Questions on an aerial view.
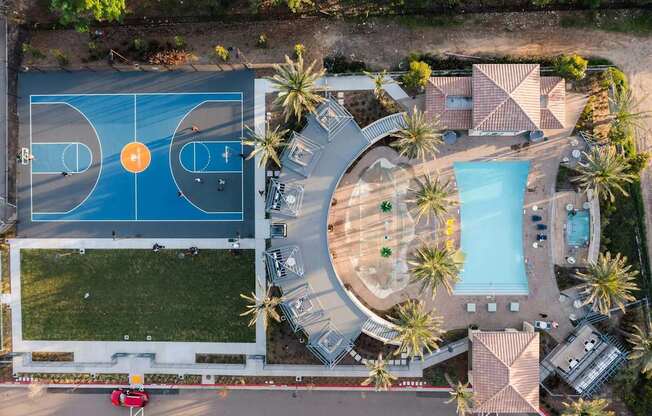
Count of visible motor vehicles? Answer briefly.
1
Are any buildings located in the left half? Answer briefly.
No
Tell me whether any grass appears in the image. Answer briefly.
Yes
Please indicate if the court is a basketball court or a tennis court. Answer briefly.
basketball court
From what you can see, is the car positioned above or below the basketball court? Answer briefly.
below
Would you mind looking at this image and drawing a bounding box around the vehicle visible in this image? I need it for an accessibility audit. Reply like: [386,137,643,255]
[113,389,150,408]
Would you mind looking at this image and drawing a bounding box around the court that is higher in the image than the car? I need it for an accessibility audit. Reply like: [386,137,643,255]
[18,72,254,238]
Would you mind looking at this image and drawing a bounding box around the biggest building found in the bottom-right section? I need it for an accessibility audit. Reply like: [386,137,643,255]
[467,327,542,415]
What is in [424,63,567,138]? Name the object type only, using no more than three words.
building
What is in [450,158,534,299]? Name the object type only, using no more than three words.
swimming pool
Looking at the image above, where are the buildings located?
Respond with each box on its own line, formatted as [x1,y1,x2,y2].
[467,327,542,415]
[424,63,567,138]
